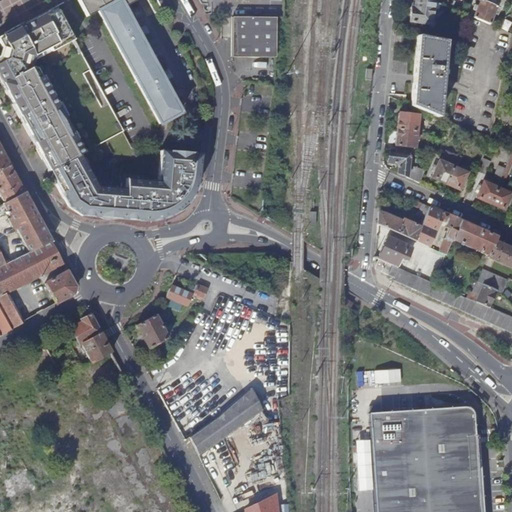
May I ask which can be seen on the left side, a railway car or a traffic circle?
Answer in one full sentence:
You can see a traffic circle on the left side.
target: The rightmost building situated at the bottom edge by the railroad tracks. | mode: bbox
[368,406,486,512]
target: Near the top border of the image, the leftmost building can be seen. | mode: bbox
[0,4,76,64]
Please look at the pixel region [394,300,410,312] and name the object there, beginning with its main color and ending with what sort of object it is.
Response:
white vehicle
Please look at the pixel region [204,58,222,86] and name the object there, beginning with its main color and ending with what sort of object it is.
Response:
white vehicle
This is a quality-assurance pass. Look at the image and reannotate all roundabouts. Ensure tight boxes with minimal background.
[77,226,156,302]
